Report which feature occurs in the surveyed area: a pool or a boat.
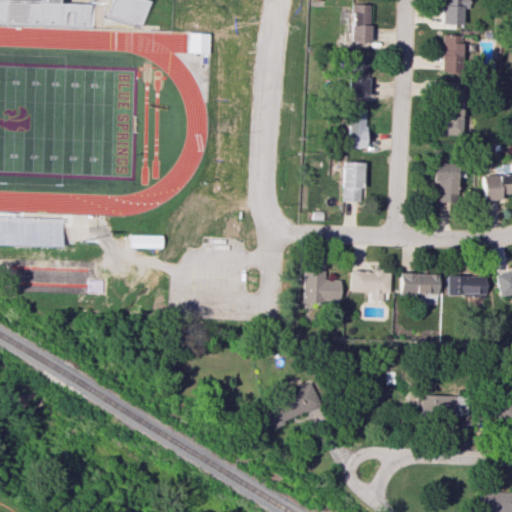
pool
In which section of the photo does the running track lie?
top left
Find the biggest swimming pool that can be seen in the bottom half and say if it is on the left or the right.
right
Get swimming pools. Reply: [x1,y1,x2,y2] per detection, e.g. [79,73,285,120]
[360,301,389,320]
[275,358,286,368]
[478,38,497,64]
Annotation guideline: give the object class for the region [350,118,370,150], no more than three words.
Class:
house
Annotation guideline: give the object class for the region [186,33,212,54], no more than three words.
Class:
shed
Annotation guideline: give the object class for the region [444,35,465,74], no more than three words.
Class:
house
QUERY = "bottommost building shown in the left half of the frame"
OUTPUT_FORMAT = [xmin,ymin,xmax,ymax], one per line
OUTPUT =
[128,235,165,250]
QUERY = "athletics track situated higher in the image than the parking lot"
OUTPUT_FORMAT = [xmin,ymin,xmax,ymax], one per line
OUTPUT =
[0,28,208,216]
